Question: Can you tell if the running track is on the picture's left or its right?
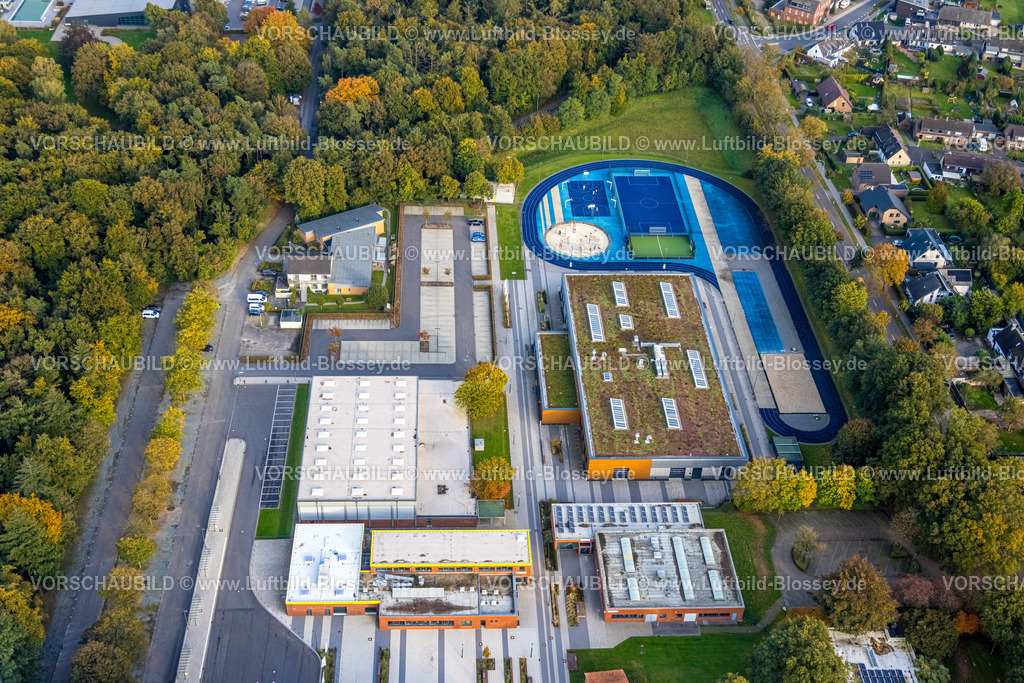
right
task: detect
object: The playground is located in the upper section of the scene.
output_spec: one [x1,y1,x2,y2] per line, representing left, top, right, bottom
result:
[544,221,611,258]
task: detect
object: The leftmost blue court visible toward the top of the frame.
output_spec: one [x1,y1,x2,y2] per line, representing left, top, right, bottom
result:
[568,181,611,216]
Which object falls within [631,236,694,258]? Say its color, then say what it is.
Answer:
green sports court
